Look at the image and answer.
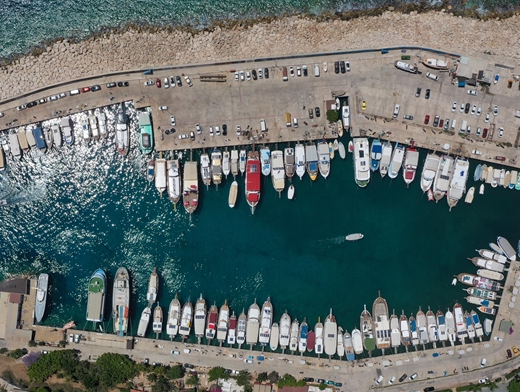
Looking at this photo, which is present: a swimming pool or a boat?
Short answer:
boat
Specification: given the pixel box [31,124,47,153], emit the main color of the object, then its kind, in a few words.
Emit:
blue boat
